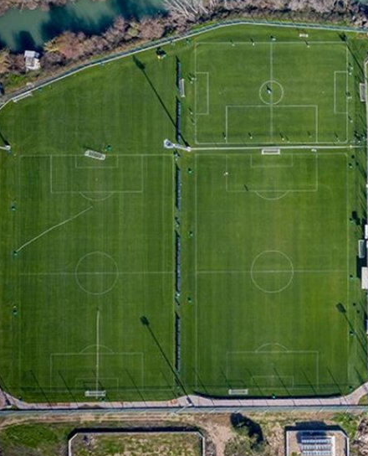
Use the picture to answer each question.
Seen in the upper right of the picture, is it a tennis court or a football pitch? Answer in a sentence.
What appears in the upper right of the picture is a football pitch.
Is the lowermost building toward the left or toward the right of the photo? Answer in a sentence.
The lowermost building appears in the right half of the scene.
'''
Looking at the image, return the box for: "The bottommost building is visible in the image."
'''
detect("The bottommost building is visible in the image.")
[300,434,337,456]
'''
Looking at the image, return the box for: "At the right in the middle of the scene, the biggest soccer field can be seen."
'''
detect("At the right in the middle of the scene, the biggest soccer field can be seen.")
[193,151,350,391]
